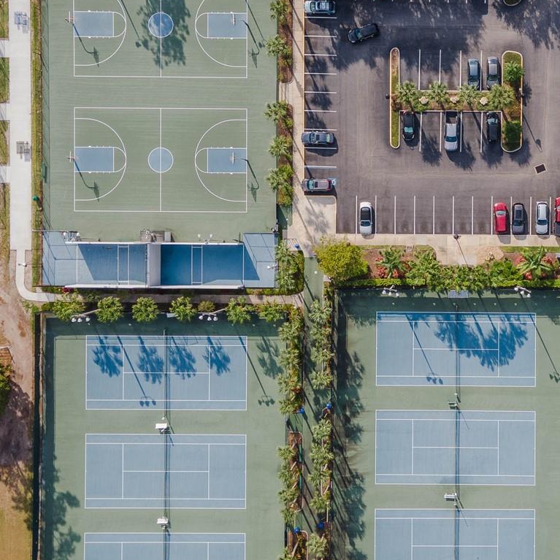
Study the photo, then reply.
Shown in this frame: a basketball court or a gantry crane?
basketball court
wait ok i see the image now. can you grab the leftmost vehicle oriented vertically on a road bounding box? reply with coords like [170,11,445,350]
[358,202,373,235]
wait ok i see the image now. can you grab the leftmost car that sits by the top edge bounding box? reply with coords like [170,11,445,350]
[303,0,336,16]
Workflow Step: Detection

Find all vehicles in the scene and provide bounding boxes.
[486,57,500,90]
[511,203,526,235]
[535,202,550,235]
[554,197,560,237]
[401,112,416,143]
[466,58,481,91]
[358,202,373,235]
[302,131,334,146]
[494,203,509,234]
[303,0,336,16]
[486,112,501,144]
[302,178,334,193]
[444,112,458,153]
